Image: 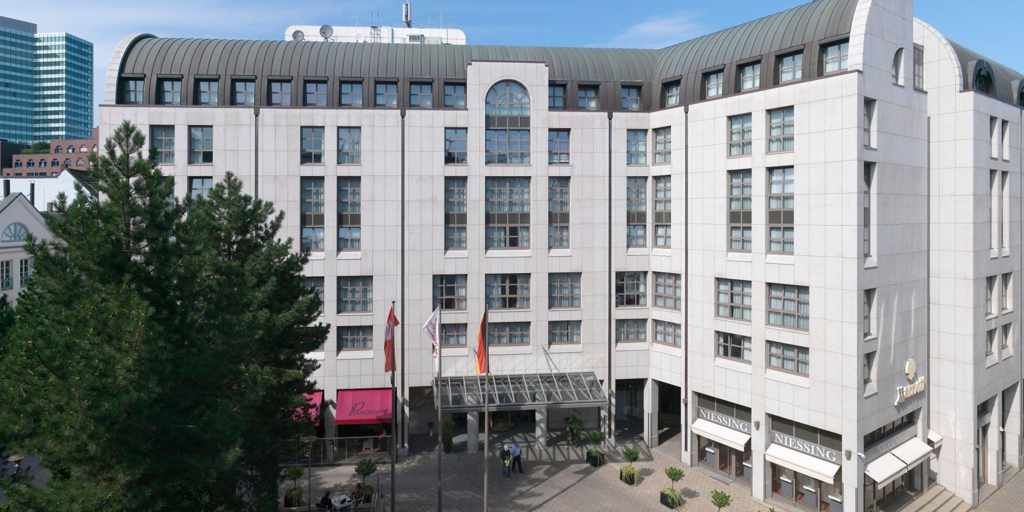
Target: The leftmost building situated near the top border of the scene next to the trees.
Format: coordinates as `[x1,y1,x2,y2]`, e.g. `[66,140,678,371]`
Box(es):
[0,9,94,148]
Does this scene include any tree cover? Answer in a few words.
Yes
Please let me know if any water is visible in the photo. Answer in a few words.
No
